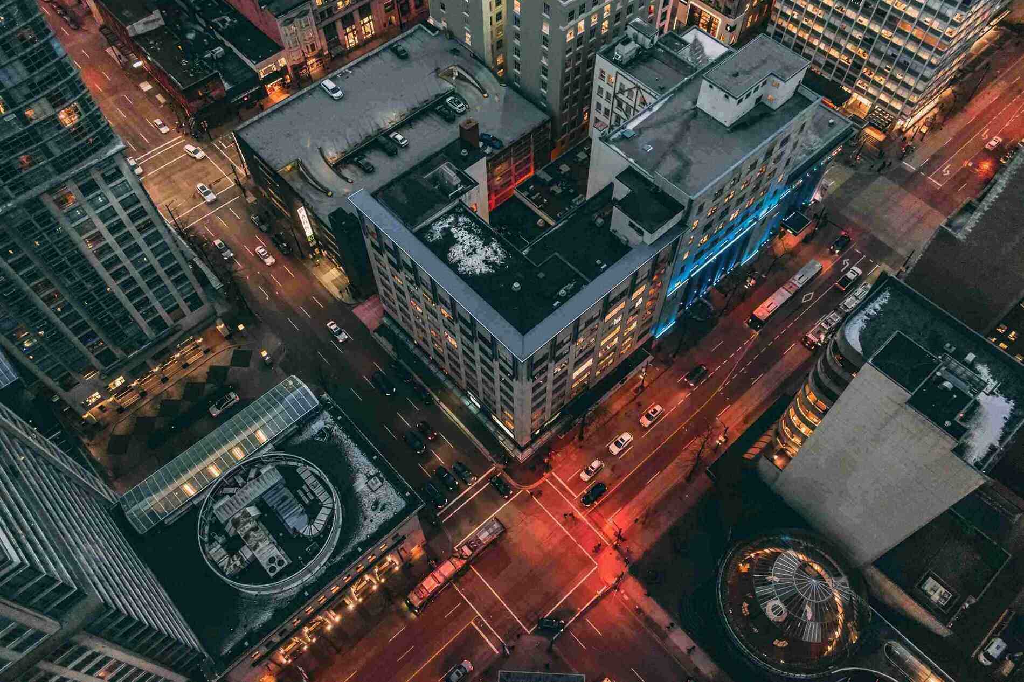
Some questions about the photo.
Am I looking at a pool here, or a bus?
bus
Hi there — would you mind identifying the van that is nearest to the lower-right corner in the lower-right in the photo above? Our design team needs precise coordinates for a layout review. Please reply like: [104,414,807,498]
[974,635,1012,671]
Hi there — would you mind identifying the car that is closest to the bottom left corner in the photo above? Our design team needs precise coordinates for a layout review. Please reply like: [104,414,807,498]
[208,391,241,418]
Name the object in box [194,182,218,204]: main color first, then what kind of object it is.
white car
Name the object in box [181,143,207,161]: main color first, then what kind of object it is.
white car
